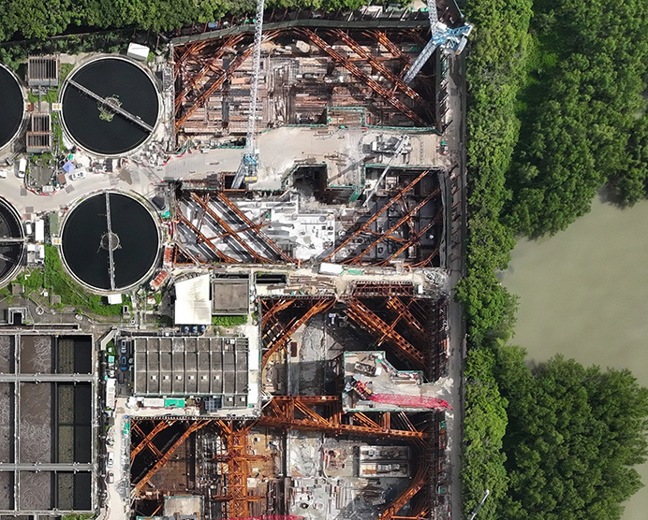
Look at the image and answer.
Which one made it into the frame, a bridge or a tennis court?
bridge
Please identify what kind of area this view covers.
industrial area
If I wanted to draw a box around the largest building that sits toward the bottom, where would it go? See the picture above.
[131,336,249,398]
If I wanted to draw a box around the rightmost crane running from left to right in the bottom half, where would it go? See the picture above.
[345,370,455,410]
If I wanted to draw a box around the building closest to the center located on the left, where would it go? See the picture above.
[210,279,249,317]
